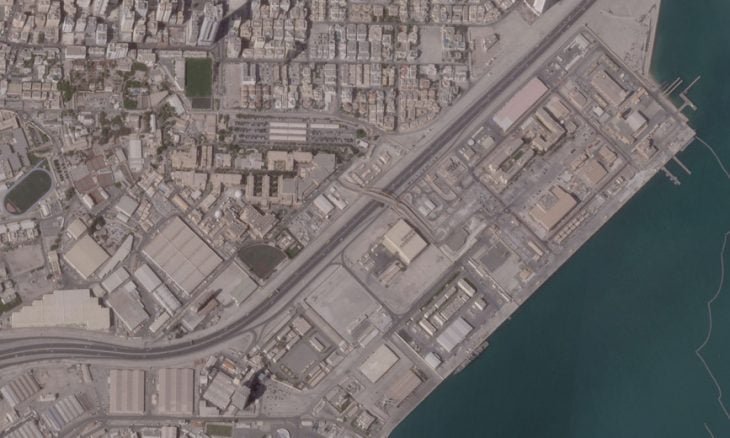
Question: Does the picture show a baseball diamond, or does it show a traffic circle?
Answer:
baseball diamond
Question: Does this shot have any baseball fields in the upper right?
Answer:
No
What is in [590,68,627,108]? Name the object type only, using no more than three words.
building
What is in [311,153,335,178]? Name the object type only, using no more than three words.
building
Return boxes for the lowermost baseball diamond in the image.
[237,241,289,280]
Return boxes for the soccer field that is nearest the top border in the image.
[185,57,212,97]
